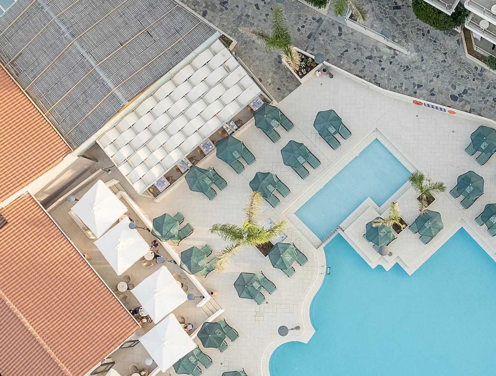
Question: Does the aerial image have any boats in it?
No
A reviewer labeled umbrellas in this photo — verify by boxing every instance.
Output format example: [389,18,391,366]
[154,214,184,244]
[267,241,297,270]
[175,353,202,376]
[365,216,393,244]
[253,103,283,132]
[282,143,312,173]
[130,266,188,323]
[251,172,282,202]
[454,169,483,198]
[94,217,149,275]
[139,314,197,372]
[314,108,343,137]
[71,180,128,237]
[467,125,496,156]
[218,138,248,167]
[185,163,215,192]
[415,210,445,240]
[233,274,263,303]
[482,202,496,231]
[199,319,228,347]
[179,247,210,276]
[223,369,246,376]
